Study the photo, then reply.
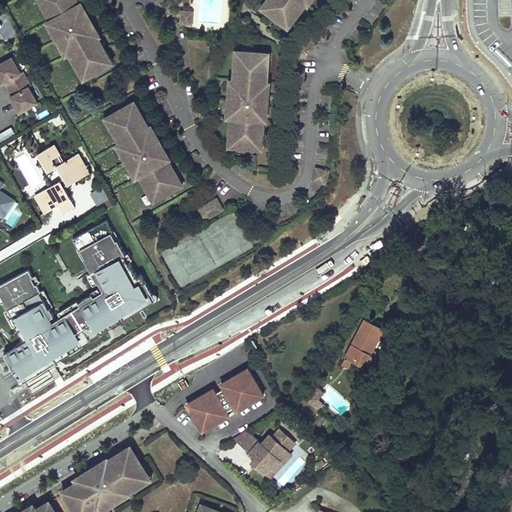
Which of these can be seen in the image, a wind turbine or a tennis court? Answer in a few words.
tennis court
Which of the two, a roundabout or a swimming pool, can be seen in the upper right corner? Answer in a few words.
roundabout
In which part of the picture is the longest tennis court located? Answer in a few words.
center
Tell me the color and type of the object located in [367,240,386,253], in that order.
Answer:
white vehicle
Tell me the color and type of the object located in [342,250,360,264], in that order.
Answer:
white vehicle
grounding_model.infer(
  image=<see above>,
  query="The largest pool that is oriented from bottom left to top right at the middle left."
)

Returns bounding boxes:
[4,209,22,230]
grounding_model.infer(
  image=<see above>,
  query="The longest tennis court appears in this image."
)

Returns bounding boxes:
[162,214,253,287]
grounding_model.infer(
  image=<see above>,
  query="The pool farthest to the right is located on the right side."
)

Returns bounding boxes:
[322,384,350,416]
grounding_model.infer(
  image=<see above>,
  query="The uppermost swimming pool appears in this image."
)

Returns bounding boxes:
[194,0,229,30]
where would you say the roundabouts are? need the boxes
[364,48,508,192]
